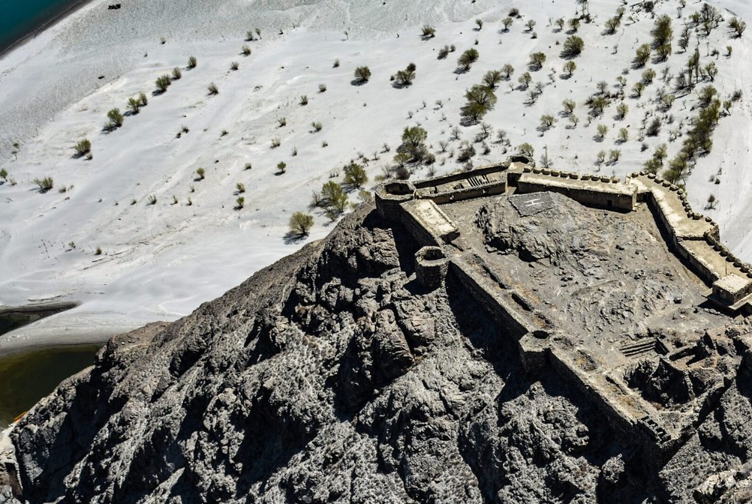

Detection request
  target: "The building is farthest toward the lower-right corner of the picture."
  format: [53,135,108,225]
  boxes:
[702,272,752,312]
